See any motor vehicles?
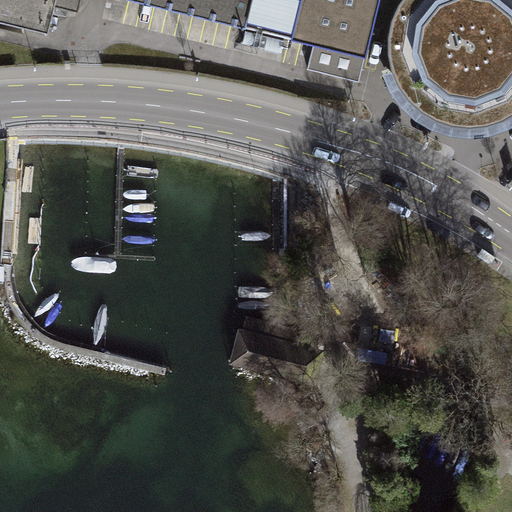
Yes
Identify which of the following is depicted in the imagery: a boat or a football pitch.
boat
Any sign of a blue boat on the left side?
Yes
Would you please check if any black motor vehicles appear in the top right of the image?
Yes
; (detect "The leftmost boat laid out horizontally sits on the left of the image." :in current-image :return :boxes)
[70,256,120,274]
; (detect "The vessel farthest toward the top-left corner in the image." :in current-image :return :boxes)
[22,166,34,192]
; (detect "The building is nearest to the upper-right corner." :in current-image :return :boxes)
[376,0,512,140]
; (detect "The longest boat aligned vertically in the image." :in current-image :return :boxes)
[93,304,108,345]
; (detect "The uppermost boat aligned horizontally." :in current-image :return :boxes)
[124,164,158,179]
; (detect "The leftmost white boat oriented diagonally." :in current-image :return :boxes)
[34,292,61,317]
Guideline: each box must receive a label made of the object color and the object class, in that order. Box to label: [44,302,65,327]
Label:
blue boat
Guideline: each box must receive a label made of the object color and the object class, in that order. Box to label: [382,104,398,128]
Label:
black car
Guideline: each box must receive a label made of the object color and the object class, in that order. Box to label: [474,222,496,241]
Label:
gray car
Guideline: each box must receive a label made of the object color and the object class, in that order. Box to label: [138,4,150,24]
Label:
white vehicle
